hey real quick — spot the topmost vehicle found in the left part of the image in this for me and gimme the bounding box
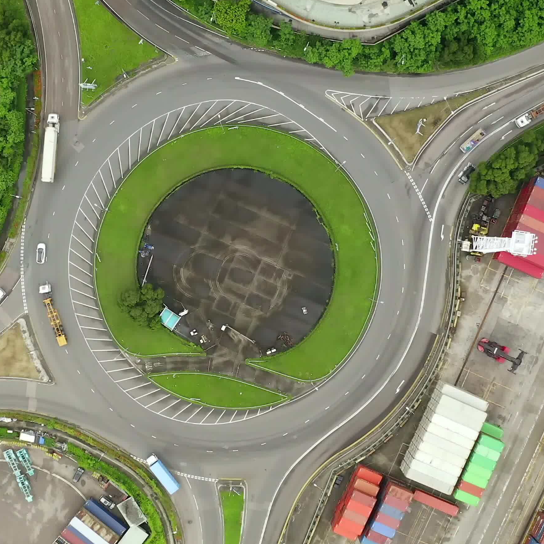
[48,115,60,141]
